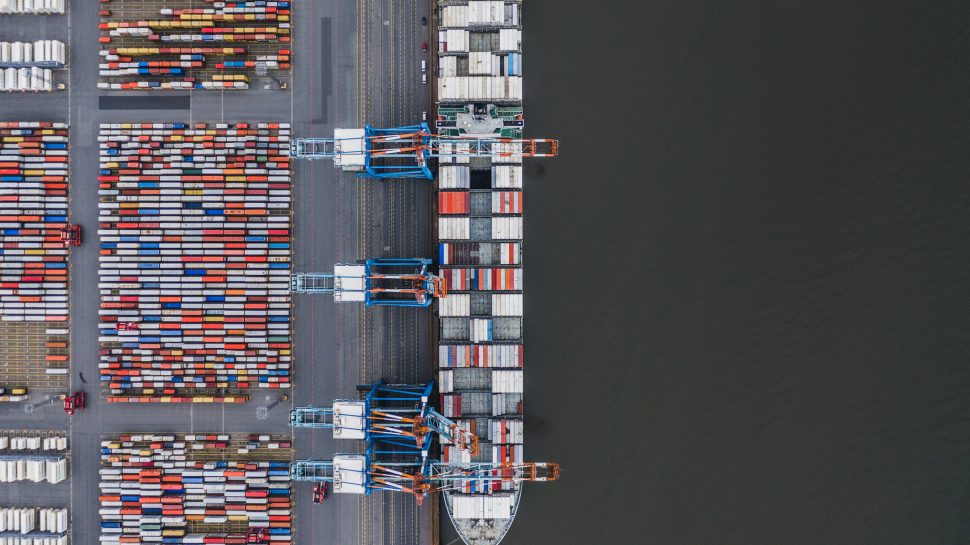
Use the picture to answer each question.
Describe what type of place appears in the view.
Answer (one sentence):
This image shows a port.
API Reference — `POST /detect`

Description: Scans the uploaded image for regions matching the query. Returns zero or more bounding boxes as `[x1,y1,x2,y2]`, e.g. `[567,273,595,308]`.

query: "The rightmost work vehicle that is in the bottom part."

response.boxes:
[310,483,328,508]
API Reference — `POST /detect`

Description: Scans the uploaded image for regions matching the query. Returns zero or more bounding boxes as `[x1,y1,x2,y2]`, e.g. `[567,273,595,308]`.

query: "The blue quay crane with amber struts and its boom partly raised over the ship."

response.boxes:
[289,375,482,463]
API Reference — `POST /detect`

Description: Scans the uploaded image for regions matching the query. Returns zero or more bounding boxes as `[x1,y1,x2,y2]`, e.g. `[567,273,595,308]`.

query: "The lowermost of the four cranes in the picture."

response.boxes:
[289,427,562,499]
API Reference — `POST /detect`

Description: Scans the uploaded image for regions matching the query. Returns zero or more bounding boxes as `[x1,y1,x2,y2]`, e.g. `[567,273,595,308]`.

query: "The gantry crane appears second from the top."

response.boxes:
[289,257,449,306]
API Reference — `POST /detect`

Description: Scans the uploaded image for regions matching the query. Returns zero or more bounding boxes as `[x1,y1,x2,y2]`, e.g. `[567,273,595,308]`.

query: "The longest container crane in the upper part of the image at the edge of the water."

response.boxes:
[289,122,562,187]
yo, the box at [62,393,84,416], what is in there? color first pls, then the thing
red work vehicle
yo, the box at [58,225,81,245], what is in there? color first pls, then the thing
red work vehicle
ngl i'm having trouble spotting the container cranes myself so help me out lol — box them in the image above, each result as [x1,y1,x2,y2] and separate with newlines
[289,375,482,463]
[289,257,449,306]
[289,427,562,499]
[289,122,562,187]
